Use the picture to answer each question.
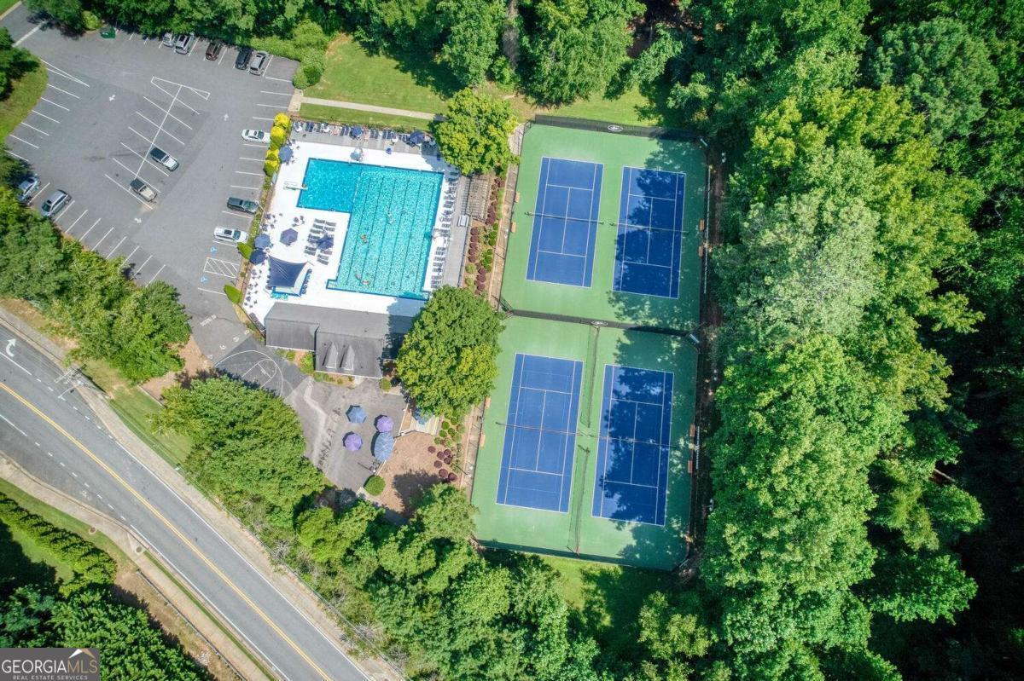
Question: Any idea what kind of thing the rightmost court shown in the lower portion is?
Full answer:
What you see as the rightmost court shown in the lower portion is a tennis court.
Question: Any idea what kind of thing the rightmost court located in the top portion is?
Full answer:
Specifically, the rightmost court located in the top portion is a tennis court.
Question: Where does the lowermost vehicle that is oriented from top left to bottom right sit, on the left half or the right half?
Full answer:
It is on the left.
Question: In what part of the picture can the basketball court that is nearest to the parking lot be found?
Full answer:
The basketball court that is nearest to the parking lot is located in the left region of the scene.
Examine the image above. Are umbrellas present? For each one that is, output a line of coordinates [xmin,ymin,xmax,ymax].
[347,406,367,424]
[255,234,271,249]
[376,416,393,433]
[351,127,362,141]
[410,131,425,146]
[374,433,393,461]
[280,228,298,245]
[278,147,294,162]
[249,248,266,263]
[344,434,362,451]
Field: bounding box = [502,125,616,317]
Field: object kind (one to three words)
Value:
tennis court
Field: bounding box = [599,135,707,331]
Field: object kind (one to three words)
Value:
tennis court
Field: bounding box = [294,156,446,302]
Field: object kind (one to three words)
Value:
swimming pool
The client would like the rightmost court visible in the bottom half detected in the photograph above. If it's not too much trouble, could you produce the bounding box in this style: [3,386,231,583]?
[576,324,697,569]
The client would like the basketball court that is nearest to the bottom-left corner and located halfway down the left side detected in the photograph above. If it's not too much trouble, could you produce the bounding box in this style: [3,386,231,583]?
[208,339,305,426]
